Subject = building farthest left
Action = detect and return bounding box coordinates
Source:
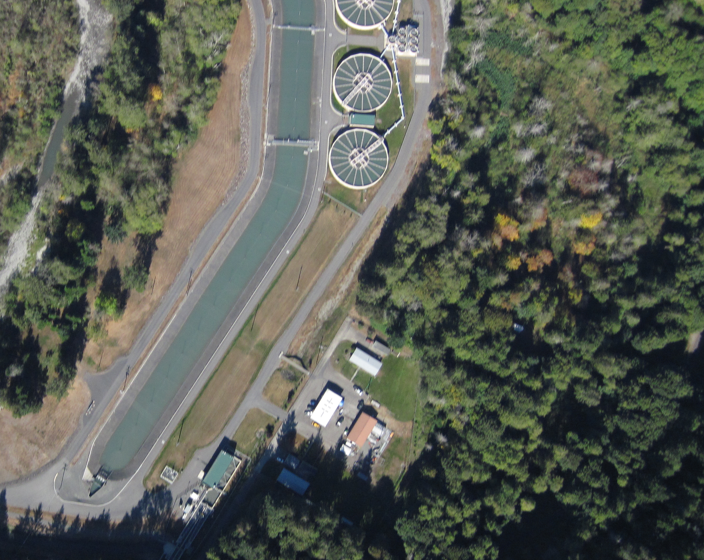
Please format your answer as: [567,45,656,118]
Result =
[203,449,234,488]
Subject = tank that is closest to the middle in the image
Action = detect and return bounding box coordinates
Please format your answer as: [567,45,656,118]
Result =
[329,129,388,188]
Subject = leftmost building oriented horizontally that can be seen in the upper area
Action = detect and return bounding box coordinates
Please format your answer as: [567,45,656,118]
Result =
[349,114,375,127]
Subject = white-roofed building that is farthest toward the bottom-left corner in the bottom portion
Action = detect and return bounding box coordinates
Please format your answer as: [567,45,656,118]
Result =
[310,389,343,427]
